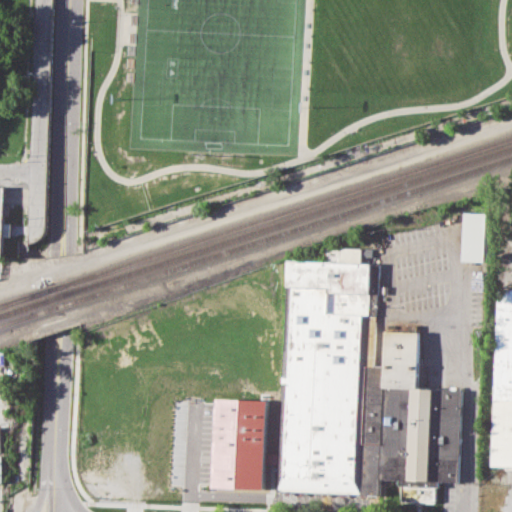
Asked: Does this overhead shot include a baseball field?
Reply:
No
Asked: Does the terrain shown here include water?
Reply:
No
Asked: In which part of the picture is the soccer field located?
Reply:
top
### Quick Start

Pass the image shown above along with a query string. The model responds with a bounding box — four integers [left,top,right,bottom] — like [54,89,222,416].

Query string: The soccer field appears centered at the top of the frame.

[131,0,304,156]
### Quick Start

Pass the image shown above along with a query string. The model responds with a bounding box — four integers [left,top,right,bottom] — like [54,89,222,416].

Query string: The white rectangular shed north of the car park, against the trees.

[461,213,487,264]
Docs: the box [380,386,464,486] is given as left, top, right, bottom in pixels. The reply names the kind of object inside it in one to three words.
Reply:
building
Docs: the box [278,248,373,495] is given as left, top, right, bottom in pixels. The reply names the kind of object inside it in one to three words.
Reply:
building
